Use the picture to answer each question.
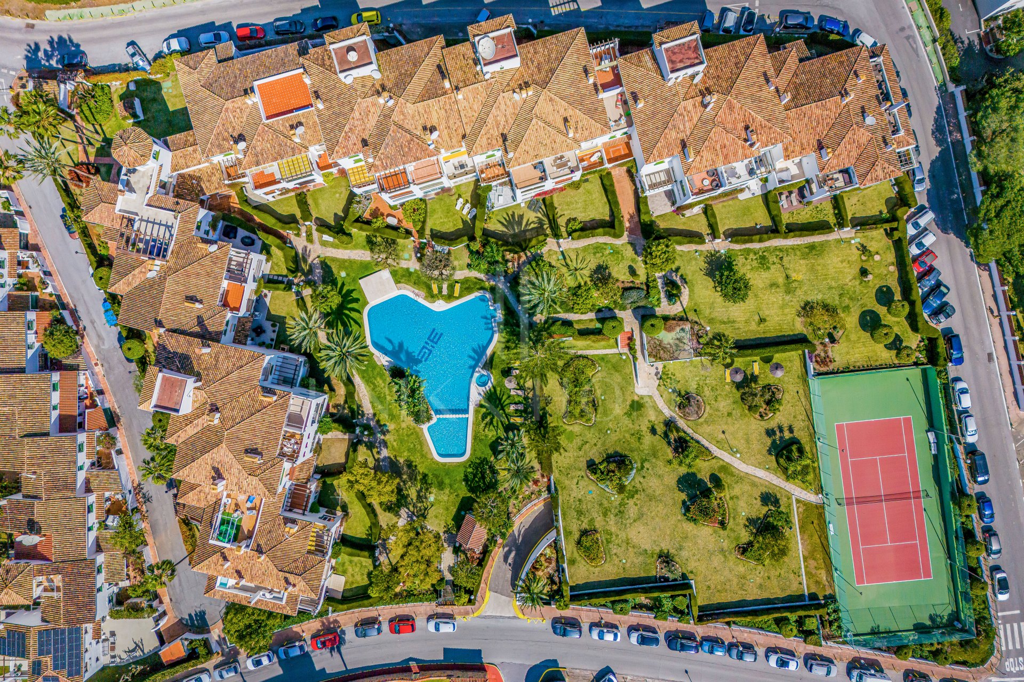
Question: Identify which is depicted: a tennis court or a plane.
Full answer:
The image shows a tennis court.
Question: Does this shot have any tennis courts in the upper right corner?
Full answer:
No, I see no tennis court in the upper right corner.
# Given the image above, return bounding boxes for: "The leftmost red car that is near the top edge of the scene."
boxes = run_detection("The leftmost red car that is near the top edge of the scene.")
[236,24,265,41]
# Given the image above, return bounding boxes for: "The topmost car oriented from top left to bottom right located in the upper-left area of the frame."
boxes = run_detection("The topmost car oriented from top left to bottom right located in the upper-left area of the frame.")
[125,41,152,72]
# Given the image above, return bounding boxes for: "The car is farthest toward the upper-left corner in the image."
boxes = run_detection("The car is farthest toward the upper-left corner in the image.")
[58,50,92,67]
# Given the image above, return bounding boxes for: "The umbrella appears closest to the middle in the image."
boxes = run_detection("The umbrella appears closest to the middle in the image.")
[504,376,517,389]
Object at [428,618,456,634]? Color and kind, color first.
white car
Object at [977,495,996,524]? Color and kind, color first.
blue car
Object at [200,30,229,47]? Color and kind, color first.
blue car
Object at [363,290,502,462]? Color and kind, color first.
blue swimming pool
